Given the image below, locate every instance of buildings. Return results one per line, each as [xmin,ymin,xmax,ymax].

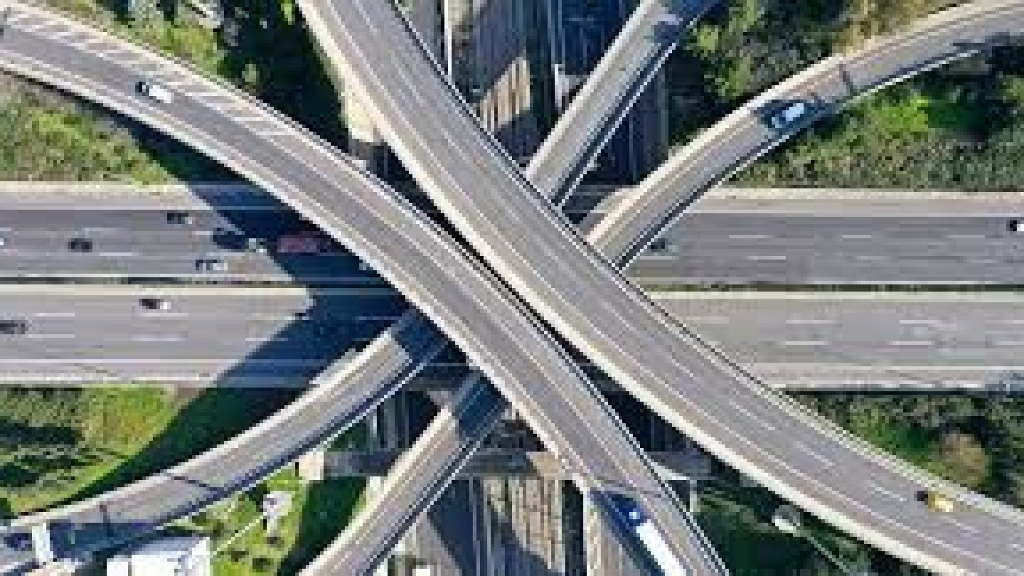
[27,560,90,576]
[107,526,217,576]
[264,498,285,516]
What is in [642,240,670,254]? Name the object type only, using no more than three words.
car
